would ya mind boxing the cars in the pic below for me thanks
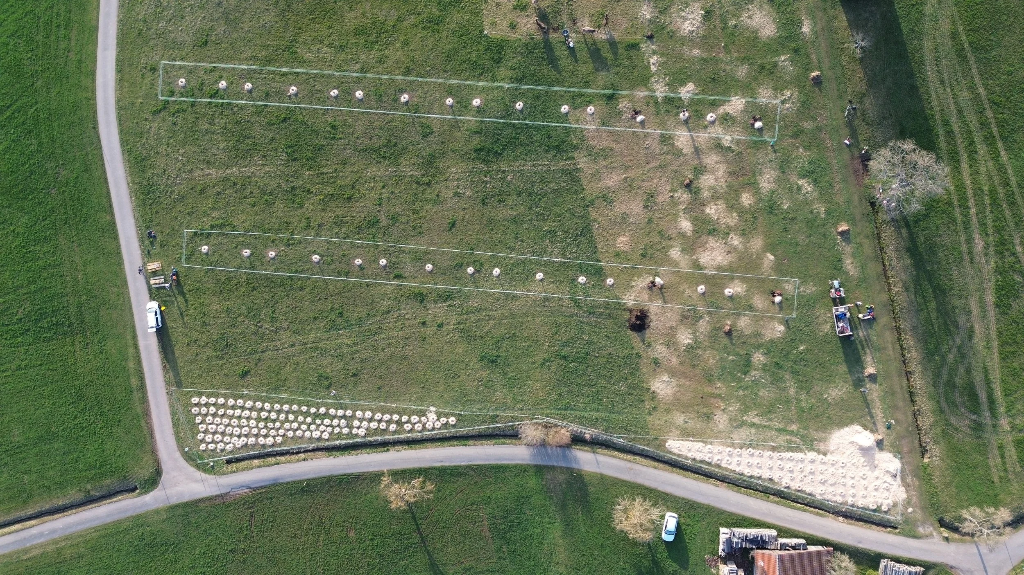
[145,302,165,336]
[662,512,678,541]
